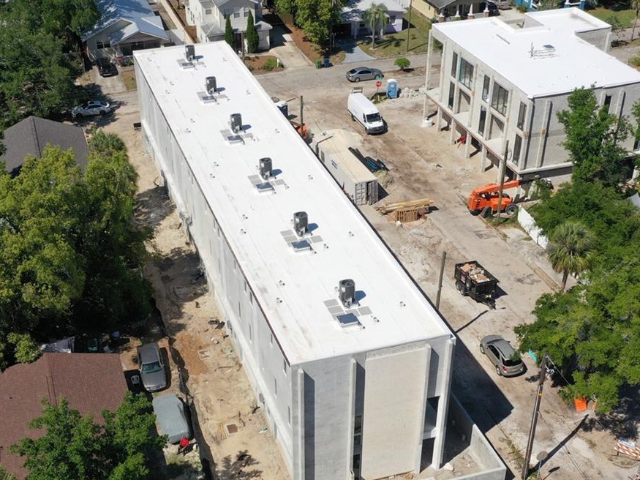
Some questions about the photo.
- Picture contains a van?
Yes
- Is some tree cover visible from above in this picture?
Yes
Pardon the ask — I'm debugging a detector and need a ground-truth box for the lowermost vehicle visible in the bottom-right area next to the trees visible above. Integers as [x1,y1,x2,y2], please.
[474,329,522,370]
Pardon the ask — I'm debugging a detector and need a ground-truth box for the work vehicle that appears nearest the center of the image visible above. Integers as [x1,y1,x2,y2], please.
[305,123,326,146]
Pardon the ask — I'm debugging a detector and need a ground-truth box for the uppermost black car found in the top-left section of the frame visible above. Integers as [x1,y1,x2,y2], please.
[96,56,117,74]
